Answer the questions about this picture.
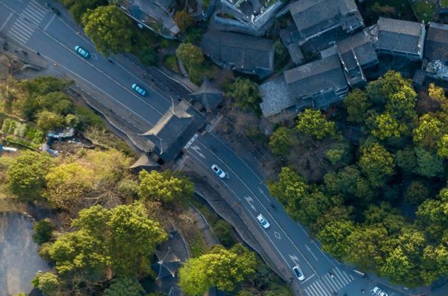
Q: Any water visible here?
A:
No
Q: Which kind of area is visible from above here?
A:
residential area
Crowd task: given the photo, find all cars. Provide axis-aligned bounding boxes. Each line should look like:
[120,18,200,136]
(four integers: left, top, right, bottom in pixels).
[292,265,304,281]
[131,82,147,96]
[256,213,270,228]
[74,44,88,58]
[211,163,227,178]
[373,286,389,296]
